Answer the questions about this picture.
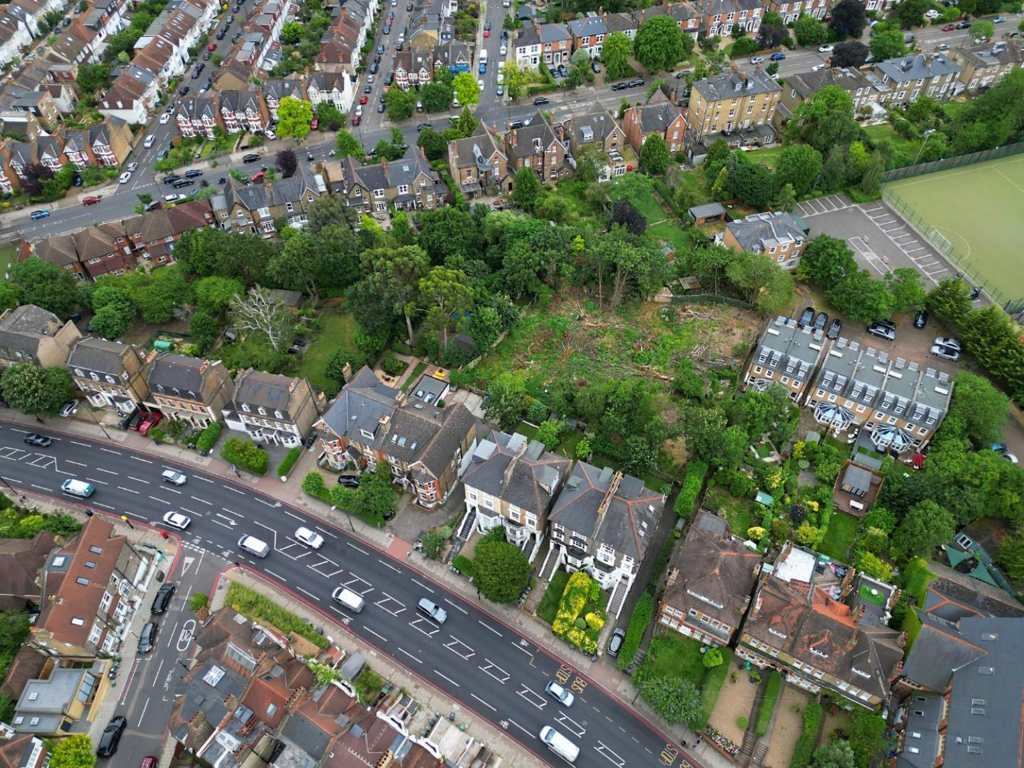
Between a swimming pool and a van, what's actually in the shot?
van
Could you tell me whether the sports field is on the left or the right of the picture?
right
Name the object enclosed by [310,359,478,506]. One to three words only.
house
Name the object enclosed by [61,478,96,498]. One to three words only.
vehicle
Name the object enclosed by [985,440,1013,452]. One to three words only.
vehicle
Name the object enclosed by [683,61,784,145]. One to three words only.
building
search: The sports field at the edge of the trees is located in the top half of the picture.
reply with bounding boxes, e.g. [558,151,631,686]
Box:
[885,153,1024,308]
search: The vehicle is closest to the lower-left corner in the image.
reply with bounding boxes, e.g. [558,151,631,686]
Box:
[100,718,125,758]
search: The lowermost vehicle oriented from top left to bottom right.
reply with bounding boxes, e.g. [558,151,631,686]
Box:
[537,722,583,766]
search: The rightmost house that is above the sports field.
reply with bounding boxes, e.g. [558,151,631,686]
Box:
[946,33,1024,91]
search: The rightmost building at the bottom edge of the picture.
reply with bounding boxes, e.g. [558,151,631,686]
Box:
[874,562,1024,768]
